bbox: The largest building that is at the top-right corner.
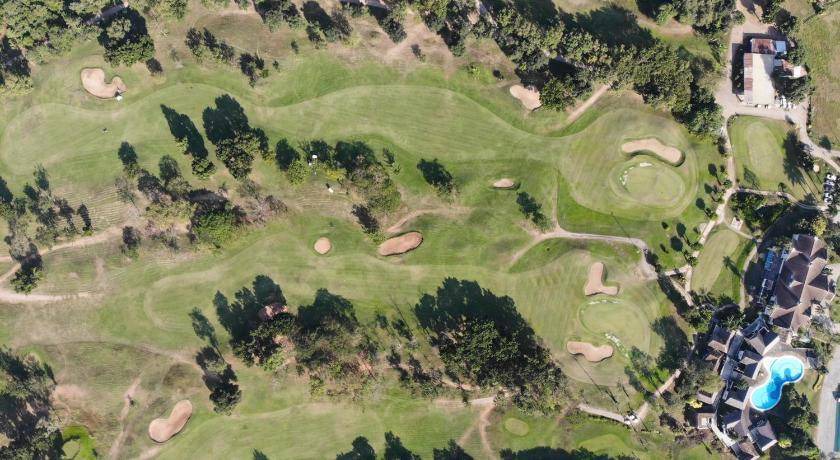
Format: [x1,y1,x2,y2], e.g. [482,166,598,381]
[739,53,774,107]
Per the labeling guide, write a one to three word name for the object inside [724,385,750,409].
house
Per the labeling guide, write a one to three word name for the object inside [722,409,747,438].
house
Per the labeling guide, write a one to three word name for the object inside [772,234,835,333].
building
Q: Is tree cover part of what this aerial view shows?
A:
Yes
